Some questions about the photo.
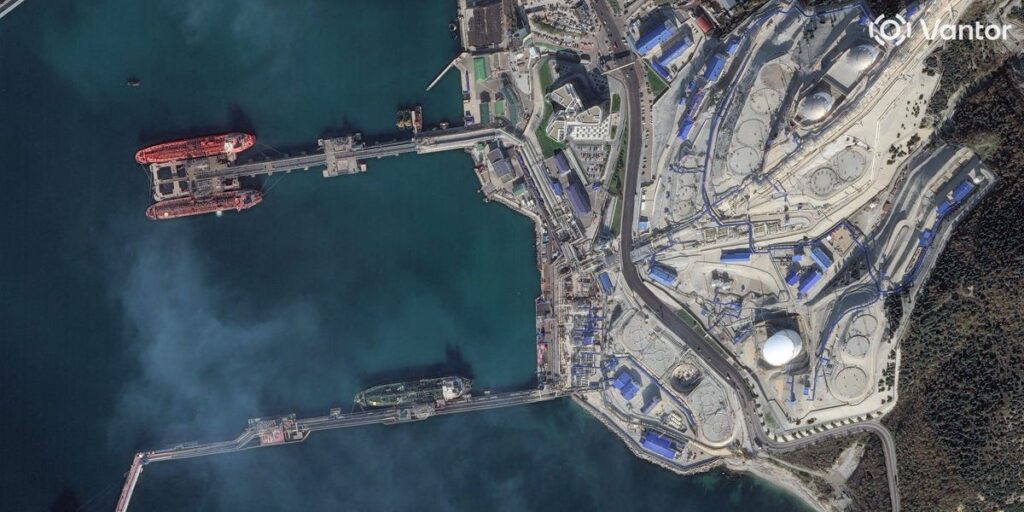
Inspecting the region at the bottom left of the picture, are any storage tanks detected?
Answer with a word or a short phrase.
No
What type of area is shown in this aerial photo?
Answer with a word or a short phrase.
port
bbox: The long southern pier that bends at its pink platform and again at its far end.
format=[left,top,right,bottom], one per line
[112,386,567,512]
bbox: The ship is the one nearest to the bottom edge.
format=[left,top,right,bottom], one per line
[342,378,480,412]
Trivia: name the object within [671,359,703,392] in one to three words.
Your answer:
storage tank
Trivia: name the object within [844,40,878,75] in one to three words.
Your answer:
storage tank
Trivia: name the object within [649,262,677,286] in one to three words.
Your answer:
building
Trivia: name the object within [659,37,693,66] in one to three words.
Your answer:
building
